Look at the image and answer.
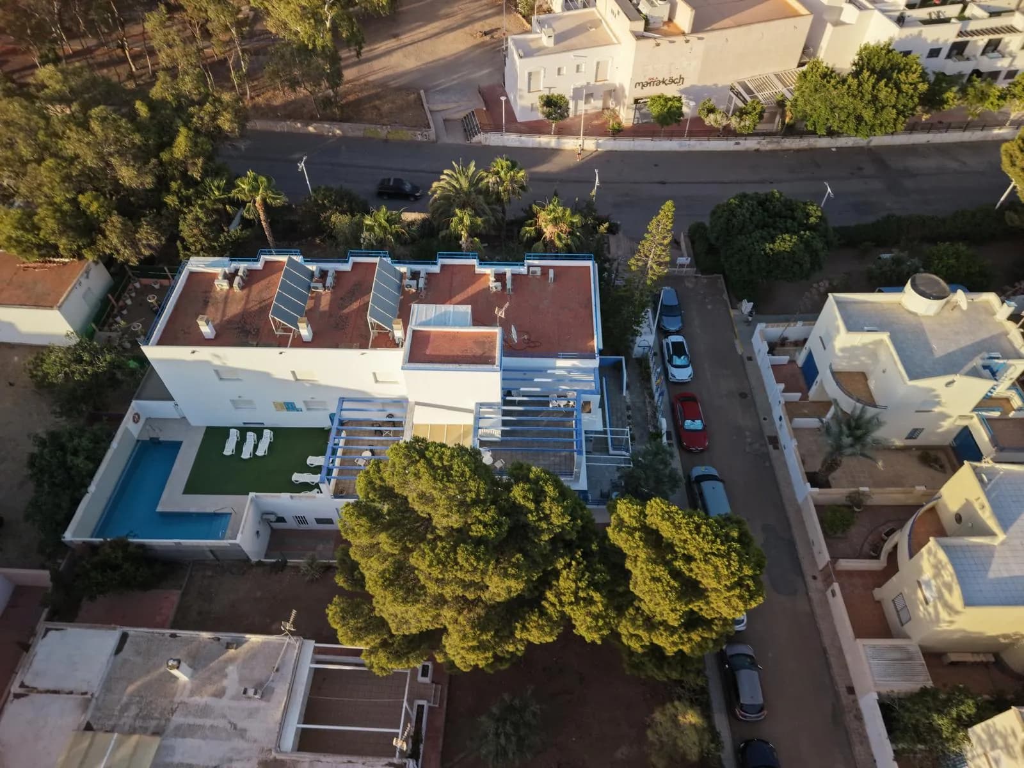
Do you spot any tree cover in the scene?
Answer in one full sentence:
Yes, some tree cover is visible.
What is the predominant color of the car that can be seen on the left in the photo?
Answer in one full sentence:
In this view, the car that can be seen on the left is black.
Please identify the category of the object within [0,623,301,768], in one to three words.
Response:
house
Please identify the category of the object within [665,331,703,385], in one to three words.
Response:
car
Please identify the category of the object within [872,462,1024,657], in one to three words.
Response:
house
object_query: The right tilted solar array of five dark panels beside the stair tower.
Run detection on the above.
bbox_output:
[368,256,403,349]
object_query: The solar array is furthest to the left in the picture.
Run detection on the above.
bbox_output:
[268,256,315,346]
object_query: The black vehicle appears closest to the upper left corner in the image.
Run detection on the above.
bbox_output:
[371,175,427,205]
